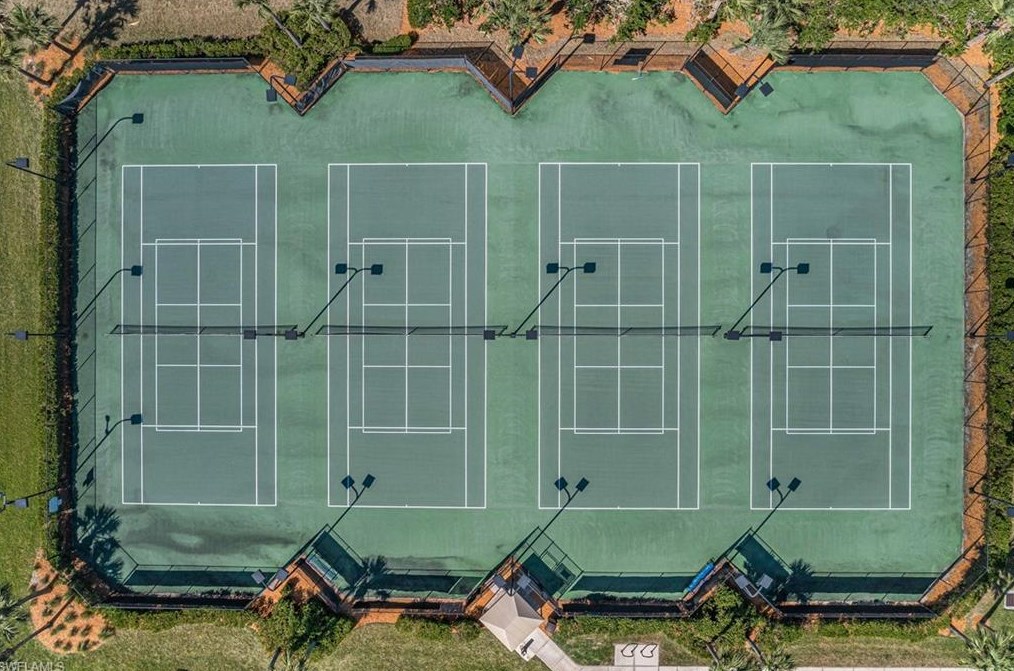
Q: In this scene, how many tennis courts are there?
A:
4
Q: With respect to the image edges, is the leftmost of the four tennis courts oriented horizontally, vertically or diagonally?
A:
vertically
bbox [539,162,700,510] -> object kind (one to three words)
tennis court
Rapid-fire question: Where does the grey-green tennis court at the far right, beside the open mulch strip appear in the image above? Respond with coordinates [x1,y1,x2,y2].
[751,163,912,511]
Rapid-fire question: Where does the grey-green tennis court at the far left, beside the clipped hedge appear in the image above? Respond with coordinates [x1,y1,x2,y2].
[122,163,277,506]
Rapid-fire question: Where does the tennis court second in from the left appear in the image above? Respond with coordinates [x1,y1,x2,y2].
[328,162,487,509]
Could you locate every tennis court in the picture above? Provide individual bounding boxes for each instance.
[539,162,700,510]
[328,162,487,509]
[751,163,912,511]
[122,163,277,506]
